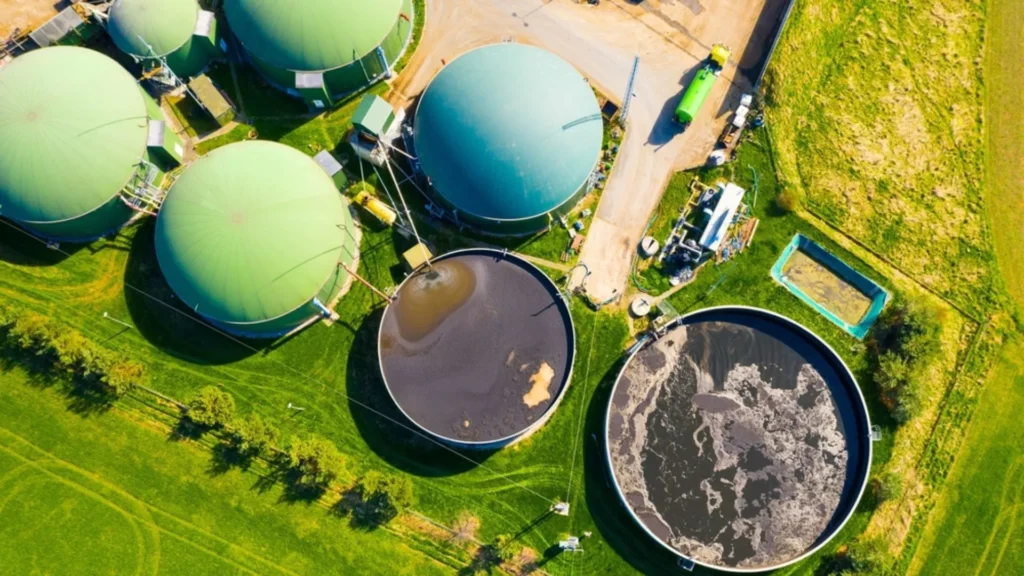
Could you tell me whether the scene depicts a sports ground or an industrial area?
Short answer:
industrial area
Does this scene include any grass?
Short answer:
Yes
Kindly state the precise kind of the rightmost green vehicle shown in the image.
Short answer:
truck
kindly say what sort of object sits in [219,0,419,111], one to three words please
storage tank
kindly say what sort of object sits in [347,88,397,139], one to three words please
shed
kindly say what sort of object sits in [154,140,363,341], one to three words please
storage tank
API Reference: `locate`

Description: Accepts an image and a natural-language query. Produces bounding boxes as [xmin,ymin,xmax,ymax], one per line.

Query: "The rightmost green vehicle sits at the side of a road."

[668,42,733,131]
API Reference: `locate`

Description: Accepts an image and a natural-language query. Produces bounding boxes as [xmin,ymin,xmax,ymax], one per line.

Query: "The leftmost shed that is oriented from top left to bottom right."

[188,73,241,128]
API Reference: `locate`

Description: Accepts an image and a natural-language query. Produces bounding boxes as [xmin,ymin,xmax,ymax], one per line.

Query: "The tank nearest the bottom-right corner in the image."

[605,302,886,576]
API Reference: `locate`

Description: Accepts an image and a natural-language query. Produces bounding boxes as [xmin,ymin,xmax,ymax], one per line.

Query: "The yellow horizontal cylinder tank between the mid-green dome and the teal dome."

[352,187,398,223]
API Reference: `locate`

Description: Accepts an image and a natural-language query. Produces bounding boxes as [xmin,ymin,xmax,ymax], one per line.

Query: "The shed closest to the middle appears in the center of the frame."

[402,243,432,273]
